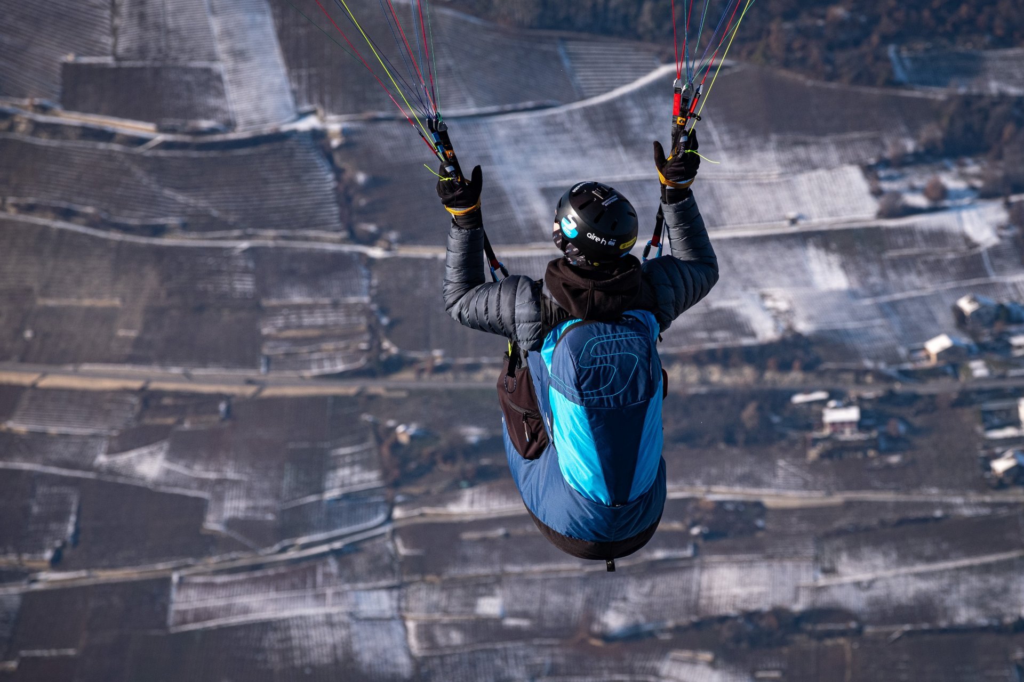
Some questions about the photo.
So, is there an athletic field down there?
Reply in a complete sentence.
No, the frame has no athletic field in it.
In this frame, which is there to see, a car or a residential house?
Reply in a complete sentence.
Looking from above, you can make out a residential house.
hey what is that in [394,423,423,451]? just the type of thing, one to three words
house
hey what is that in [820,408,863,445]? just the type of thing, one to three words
house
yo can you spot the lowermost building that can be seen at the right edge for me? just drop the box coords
[985,454,1024,493]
